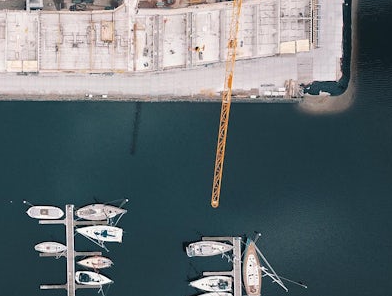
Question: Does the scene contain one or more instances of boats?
Yes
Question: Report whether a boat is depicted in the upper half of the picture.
No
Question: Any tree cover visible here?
No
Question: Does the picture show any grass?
No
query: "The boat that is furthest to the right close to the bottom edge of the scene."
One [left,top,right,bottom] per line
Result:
[241,237,284,296]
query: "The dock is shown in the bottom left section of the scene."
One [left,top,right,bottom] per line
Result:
[38,204,108,296]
